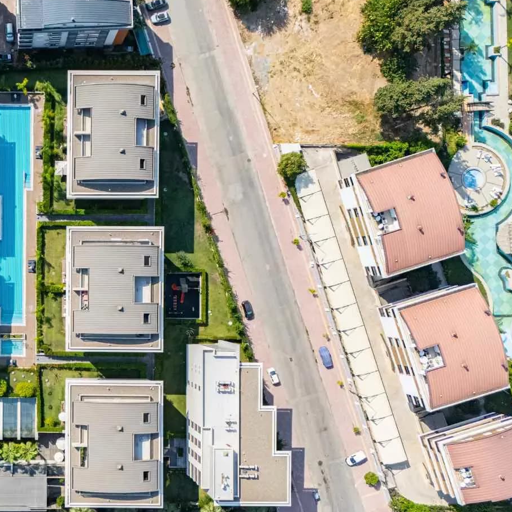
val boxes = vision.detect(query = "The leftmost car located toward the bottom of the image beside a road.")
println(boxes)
[242,300,254,320]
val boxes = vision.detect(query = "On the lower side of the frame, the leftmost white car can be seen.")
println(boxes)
[266,365,280,387]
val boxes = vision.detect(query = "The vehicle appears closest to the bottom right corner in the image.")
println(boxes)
[344,450,369,466]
